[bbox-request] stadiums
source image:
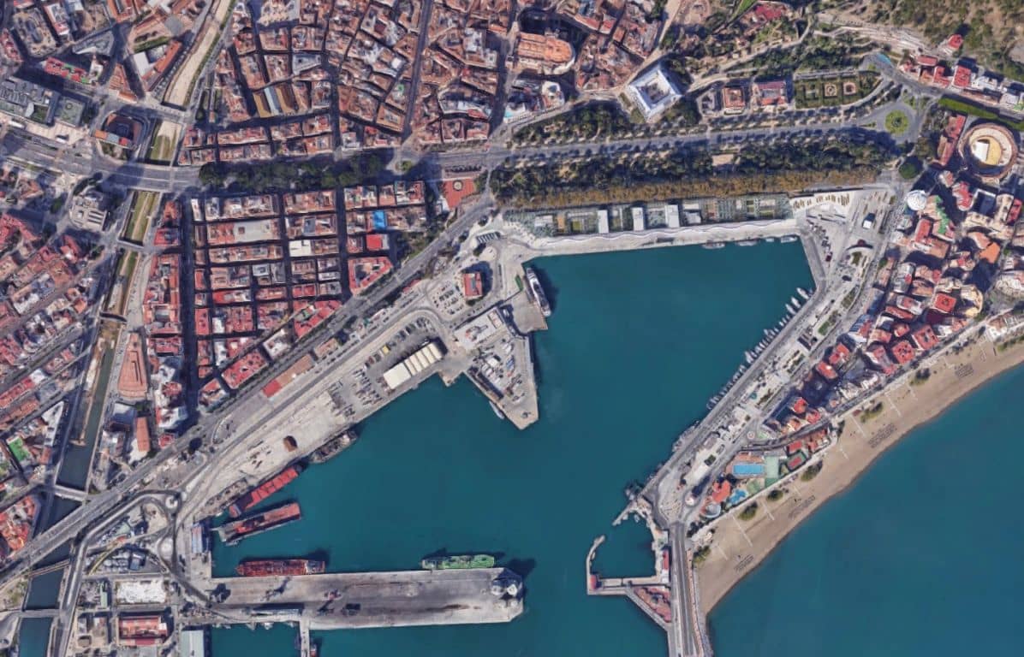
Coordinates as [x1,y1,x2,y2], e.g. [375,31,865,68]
[959,118,1019,176]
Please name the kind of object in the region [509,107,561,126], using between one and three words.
house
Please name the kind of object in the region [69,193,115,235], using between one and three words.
building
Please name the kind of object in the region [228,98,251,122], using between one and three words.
house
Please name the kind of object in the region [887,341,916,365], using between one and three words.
building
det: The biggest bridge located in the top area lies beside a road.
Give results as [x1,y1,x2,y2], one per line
[127,159,176,190]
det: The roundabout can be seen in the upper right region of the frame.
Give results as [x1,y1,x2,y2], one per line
[875,100,918,143]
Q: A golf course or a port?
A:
port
